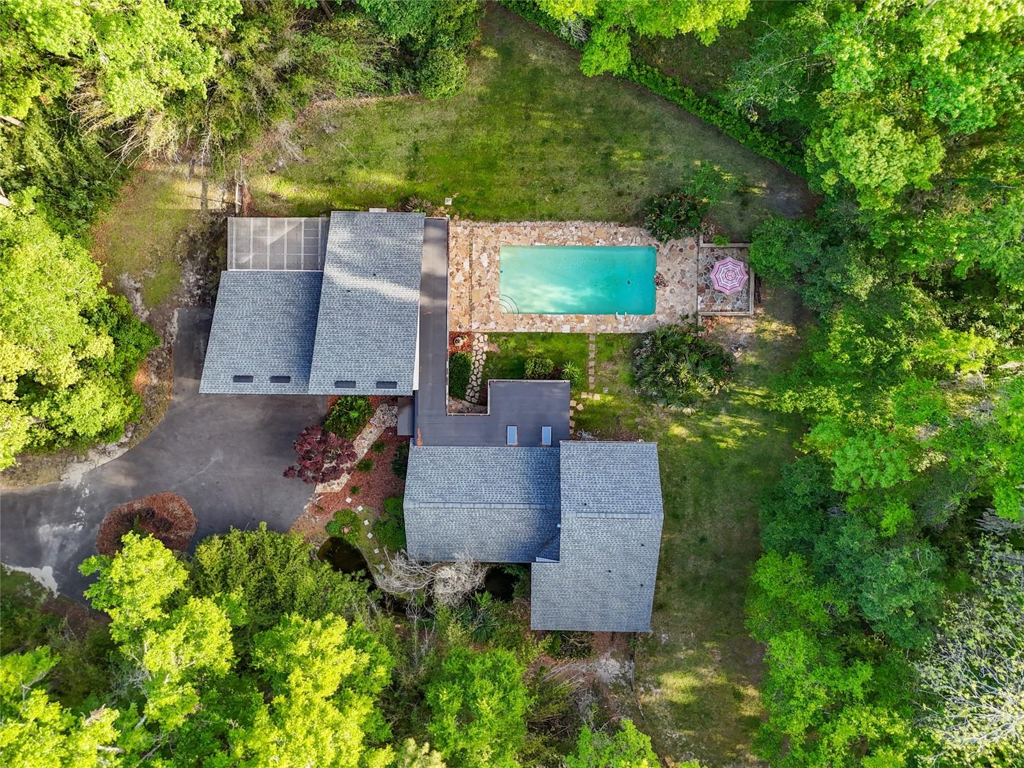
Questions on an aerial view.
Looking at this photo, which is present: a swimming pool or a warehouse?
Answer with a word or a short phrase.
swimming pool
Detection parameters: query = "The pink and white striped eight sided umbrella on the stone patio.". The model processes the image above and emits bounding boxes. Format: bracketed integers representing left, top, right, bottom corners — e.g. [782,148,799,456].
[708,257,745,294]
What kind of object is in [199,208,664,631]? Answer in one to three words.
house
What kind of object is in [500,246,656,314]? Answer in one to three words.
swimming pool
